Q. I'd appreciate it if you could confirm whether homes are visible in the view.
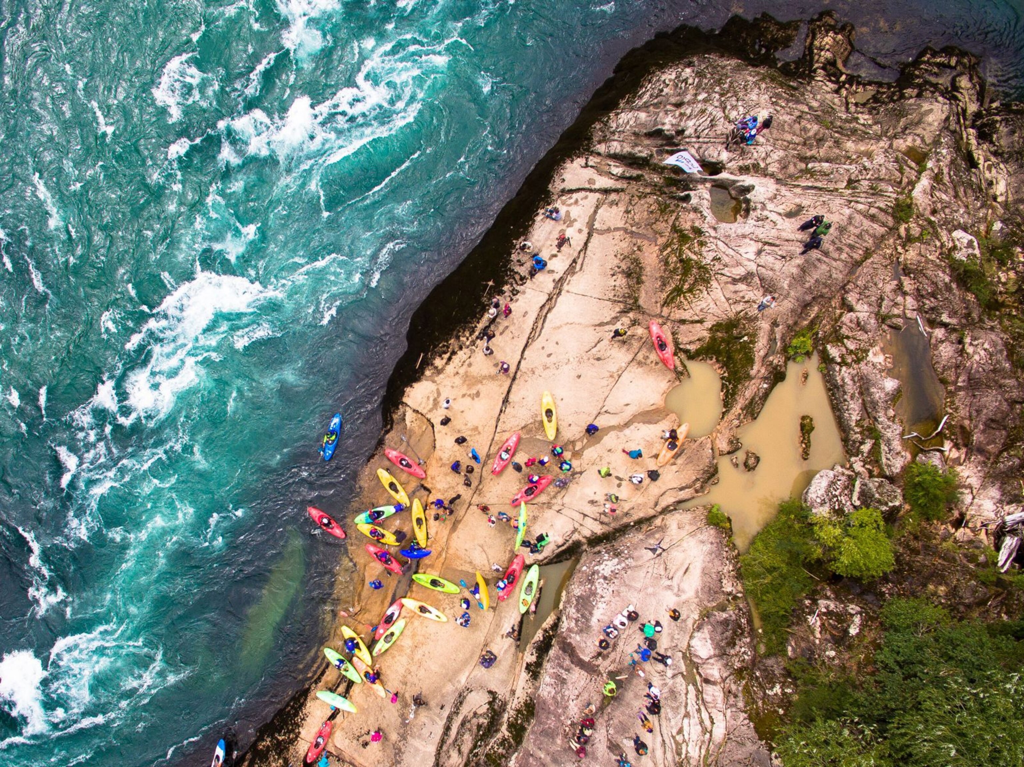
No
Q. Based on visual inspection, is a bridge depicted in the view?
No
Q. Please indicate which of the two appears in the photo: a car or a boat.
boat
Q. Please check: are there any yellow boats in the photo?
Yes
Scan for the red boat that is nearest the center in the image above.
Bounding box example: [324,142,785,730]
[493,433,519,474]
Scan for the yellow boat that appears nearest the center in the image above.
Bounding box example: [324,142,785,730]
[542,391,556,440]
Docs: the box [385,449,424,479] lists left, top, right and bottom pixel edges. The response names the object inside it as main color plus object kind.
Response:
red boat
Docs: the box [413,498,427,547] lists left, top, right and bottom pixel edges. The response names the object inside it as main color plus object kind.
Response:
yellow boat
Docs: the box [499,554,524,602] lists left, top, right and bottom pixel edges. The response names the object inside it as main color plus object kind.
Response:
red boat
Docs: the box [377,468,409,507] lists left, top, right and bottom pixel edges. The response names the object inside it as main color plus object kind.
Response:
yellow boat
